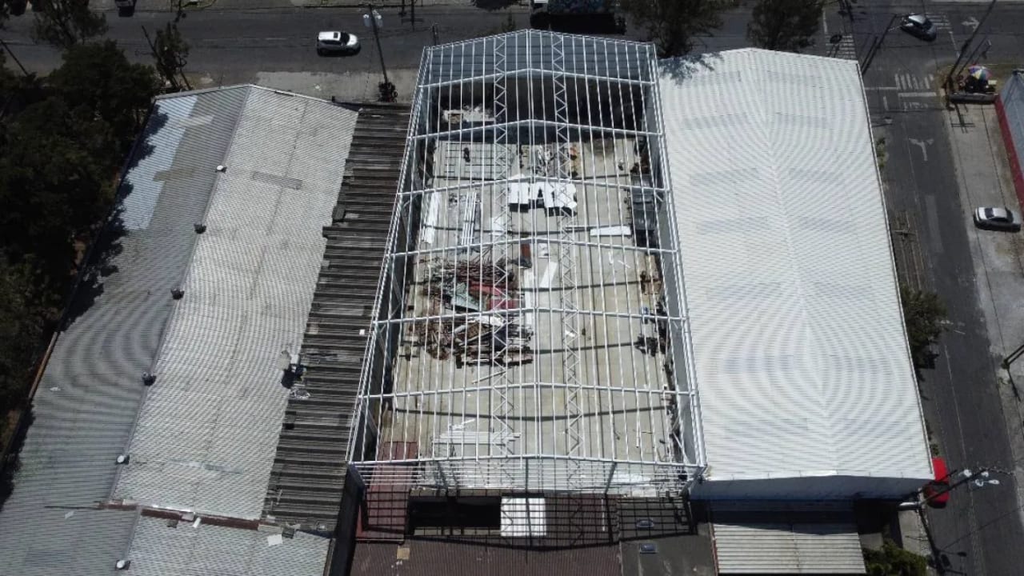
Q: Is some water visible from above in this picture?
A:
No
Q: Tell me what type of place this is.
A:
industrial area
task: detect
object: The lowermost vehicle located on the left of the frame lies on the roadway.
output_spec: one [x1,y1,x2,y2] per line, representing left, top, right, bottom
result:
[315,29,357,51]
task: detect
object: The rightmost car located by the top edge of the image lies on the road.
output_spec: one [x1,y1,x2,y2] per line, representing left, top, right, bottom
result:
[898,12,940,36]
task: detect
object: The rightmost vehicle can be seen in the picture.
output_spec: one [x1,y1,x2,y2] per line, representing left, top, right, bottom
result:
[974,205,1024,228]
